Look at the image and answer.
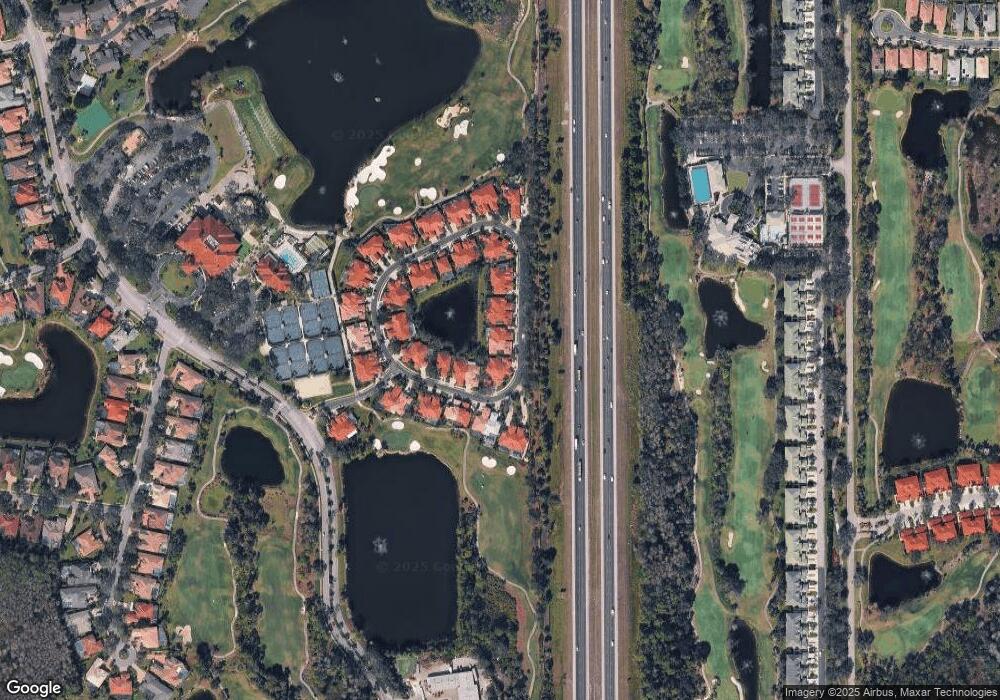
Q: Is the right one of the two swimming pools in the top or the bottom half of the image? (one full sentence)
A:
The right one of the two swimming pools sits in the top half of the picture.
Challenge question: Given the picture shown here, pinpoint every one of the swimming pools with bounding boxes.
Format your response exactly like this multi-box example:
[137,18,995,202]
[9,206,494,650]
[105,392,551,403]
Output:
[688,161,727,207]
[275,241,306,272]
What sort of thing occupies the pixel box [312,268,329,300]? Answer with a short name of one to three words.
tennis court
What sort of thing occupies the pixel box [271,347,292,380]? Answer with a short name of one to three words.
tennis court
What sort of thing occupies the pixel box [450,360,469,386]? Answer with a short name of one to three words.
house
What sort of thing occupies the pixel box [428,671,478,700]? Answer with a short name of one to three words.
building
